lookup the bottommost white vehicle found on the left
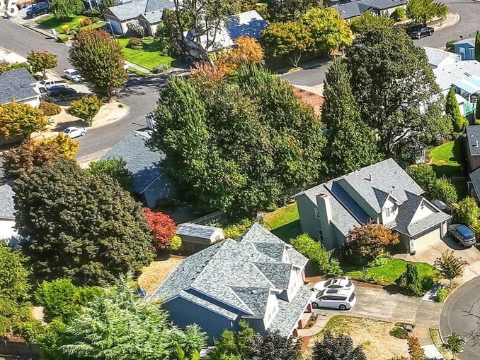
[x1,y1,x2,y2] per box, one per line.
[59,124,88,136]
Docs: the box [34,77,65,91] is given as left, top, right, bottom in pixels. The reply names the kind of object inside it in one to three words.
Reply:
vehicle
